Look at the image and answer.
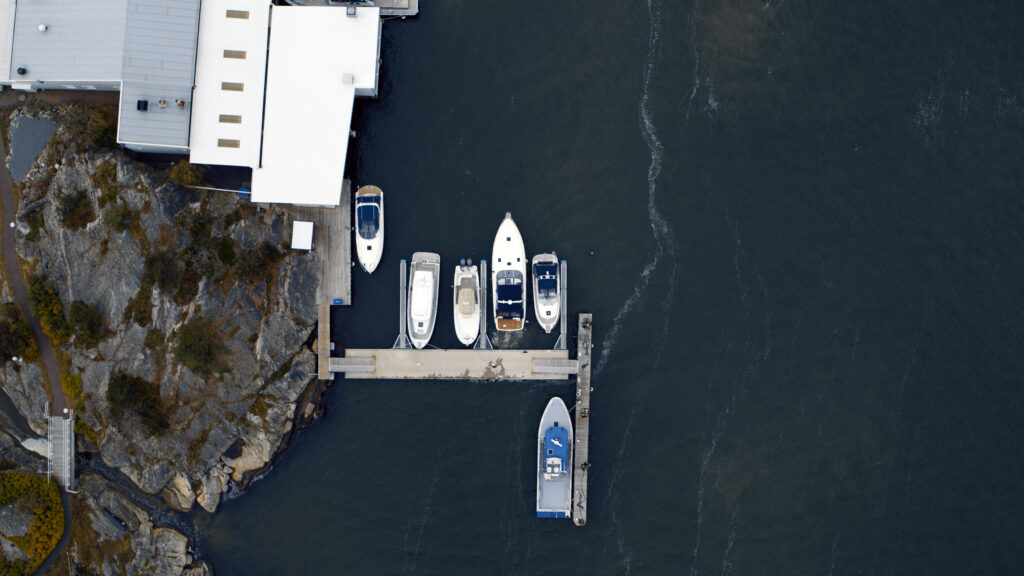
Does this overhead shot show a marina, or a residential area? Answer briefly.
marina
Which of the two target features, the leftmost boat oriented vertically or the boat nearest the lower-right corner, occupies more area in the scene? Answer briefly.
the boat nearest the lower-right corner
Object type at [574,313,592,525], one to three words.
pier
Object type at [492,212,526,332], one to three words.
boat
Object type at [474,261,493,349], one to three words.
pier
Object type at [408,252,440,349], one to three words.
boat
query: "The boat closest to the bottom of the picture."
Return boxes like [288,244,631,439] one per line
[536,396,574,519]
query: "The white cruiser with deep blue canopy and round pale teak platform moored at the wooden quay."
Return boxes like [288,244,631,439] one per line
[356,185,384,272]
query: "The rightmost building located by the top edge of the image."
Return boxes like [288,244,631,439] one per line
[251,6,387,207]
